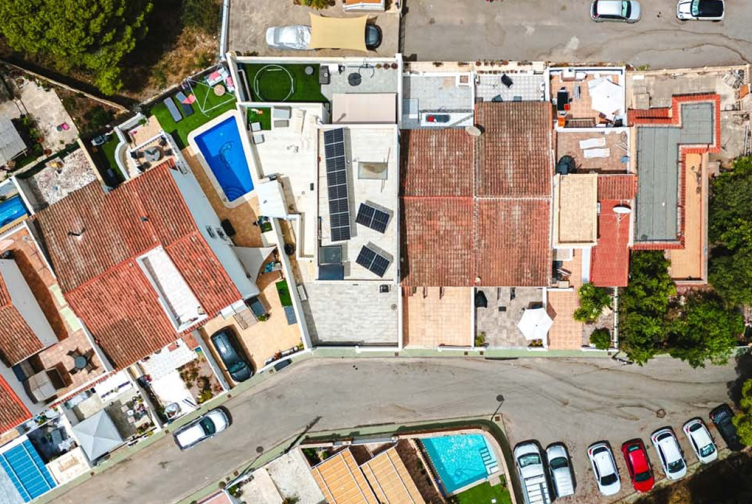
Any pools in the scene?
Yes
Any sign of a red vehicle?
Yes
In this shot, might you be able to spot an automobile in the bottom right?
Yes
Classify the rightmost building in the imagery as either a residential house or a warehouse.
residential house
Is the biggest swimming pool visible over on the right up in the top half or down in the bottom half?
bottom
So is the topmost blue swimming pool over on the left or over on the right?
left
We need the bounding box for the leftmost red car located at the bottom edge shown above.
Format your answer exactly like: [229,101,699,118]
[621,437,654,494]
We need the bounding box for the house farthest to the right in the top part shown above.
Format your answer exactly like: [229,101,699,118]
[628,94,722,284]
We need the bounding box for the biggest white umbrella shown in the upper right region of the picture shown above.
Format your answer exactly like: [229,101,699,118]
[585,76,629,119]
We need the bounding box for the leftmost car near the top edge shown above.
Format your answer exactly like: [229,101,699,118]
[264,24,312,52]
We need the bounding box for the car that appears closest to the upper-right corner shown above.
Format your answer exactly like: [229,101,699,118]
[675,0,726,23]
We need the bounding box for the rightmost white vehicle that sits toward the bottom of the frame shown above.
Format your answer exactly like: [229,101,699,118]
[681,414,717,466]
